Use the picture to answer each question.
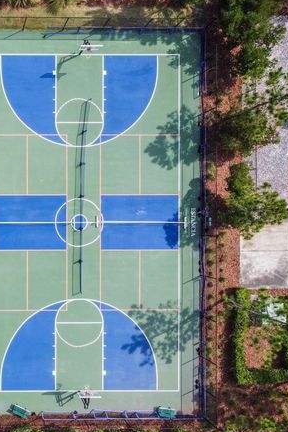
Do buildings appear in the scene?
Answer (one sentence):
No, there is no building in the image.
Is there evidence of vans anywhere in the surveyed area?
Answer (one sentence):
No, no van is visible in the view.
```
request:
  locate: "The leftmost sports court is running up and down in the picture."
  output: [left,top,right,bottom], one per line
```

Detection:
[0,134,68,311]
